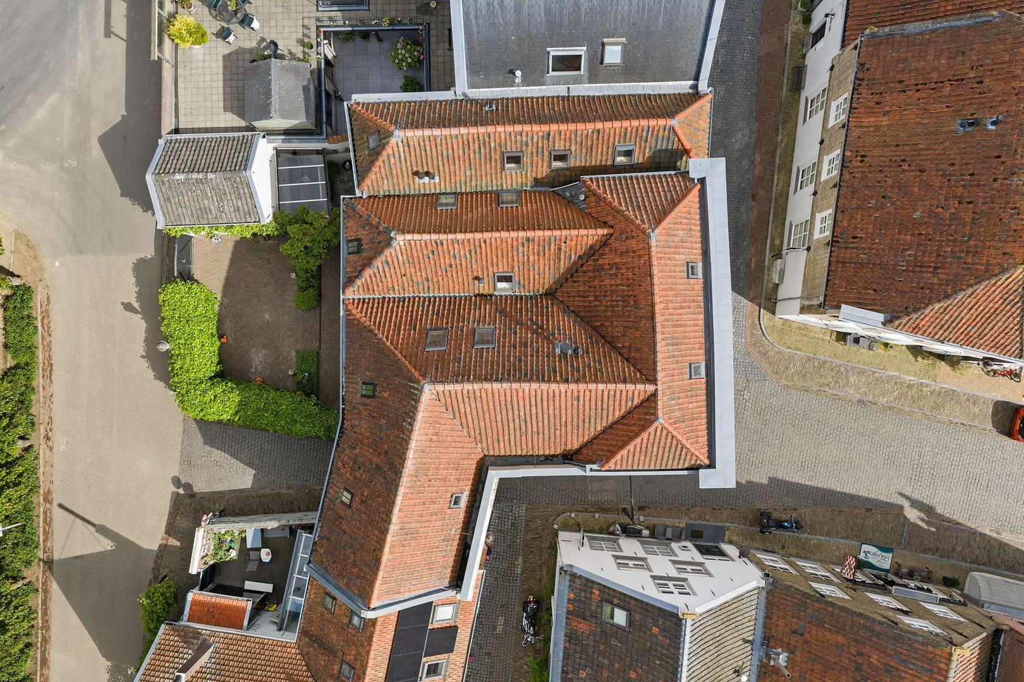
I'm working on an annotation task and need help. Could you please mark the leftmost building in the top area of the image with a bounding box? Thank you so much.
[145,129,276,229]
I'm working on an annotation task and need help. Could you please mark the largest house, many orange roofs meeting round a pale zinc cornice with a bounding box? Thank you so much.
[304,158,736,622]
